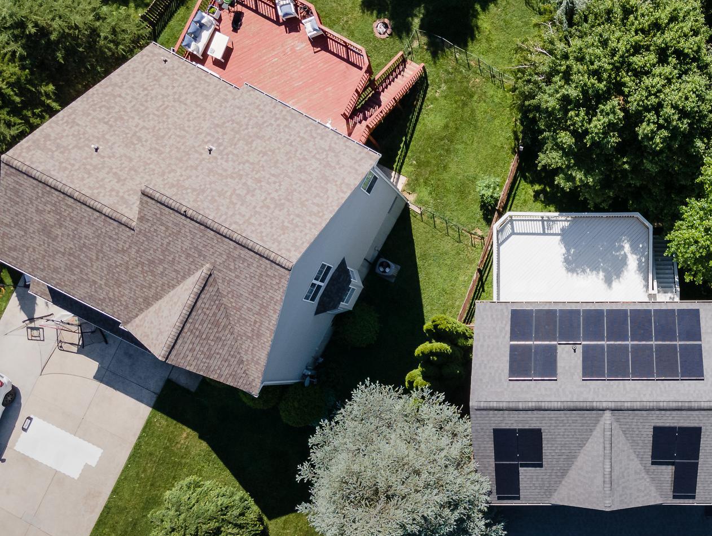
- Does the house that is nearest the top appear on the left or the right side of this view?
left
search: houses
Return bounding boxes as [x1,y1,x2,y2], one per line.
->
[0,42,414,397]
[469,299,712,536]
